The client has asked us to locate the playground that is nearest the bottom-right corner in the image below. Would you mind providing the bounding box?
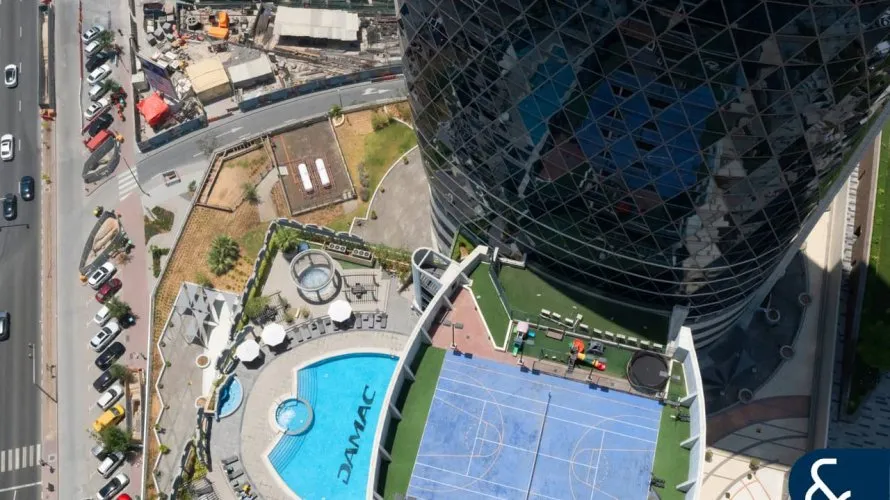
[564,338,610,373]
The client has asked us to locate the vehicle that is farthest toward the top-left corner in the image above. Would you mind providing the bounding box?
[4,64,18,87]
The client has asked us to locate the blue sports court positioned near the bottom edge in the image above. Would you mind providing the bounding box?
[406,355,663,500]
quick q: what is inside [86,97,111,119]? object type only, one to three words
car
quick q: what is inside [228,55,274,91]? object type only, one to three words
building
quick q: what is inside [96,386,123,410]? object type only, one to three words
car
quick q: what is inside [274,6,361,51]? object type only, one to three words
shed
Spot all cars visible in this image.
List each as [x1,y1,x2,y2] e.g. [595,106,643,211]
[95,454,125,480]
[86,97,111,119]
[91,369,114,395]
[0,136,15,161]
[95,278,123,303]
[96,407,123,433]
[4,64,18,87]
[82,35,106,58]
[85,436,111,463]
[87,263,116,290]
[89,324,119,349]
[97,473,128,500]
[88,63,113,85]
[89,113,114,135]
[20,176,35,203]
[84,128,112,151]
[96,386,123,410]
[3,195,17,221]
[95,343,124,370]
[91,303,115,328]
[85,83,109,103]
[121,489,141,500]
[81,23,103,44]
[84,50,108,72]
